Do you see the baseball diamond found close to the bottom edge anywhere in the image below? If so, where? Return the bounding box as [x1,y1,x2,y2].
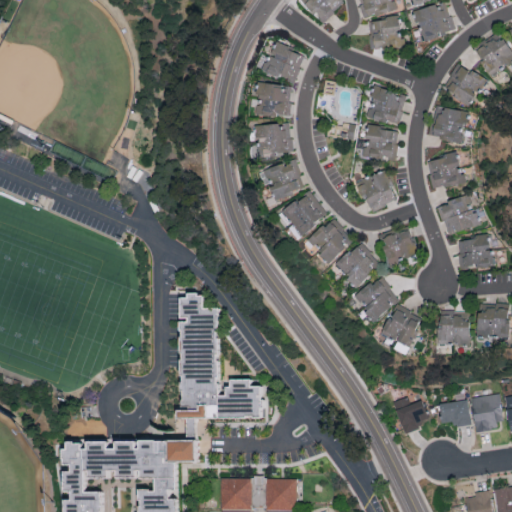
[0,411,44,512]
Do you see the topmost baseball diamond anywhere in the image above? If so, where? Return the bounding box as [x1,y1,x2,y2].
[0,0,134,162]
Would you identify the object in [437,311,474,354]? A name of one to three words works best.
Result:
house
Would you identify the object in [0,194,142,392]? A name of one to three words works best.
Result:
sports field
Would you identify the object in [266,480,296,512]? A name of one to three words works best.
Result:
building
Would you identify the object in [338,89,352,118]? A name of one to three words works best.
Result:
swimming pool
